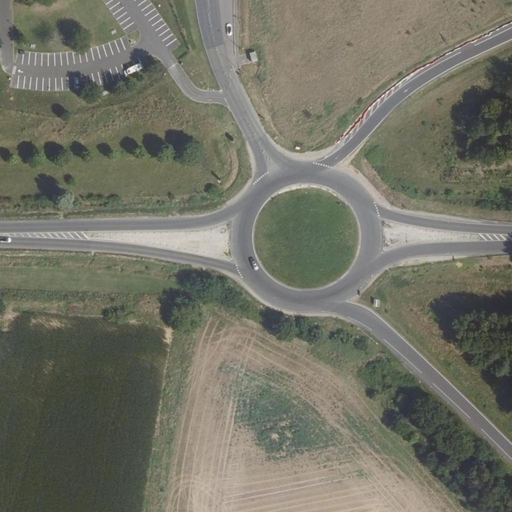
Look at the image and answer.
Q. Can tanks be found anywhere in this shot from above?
No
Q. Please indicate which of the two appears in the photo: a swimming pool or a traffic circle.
traffic circle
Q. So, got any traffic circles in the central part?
Yes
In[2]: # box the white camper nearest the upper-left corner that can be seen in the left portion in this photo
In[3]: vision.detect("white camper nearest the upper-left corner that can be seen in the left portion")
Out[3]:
[123,63,142,76]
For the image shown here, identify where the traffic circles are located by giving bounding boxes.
[214,162,382,314]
